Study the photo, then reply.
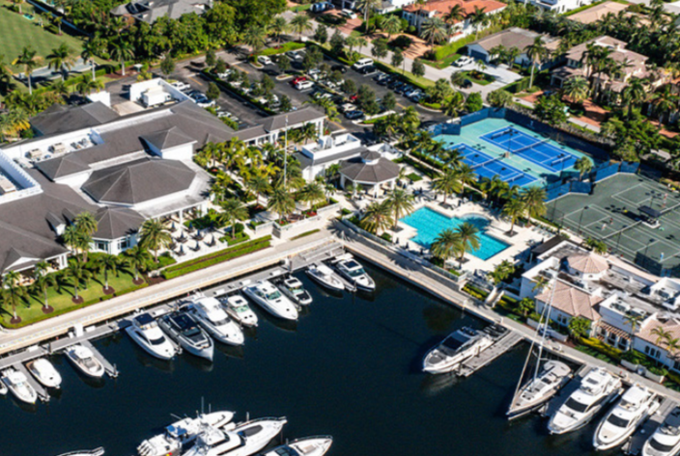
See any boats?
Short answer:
Yes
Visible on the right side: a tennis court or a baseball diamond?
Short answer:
tennis court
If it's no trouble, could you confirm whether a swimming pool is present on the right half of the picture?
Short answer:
Yes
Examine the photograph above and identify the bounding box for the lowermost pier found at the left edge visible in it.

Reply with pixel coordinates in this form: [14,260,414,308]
[14,360,51,401]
